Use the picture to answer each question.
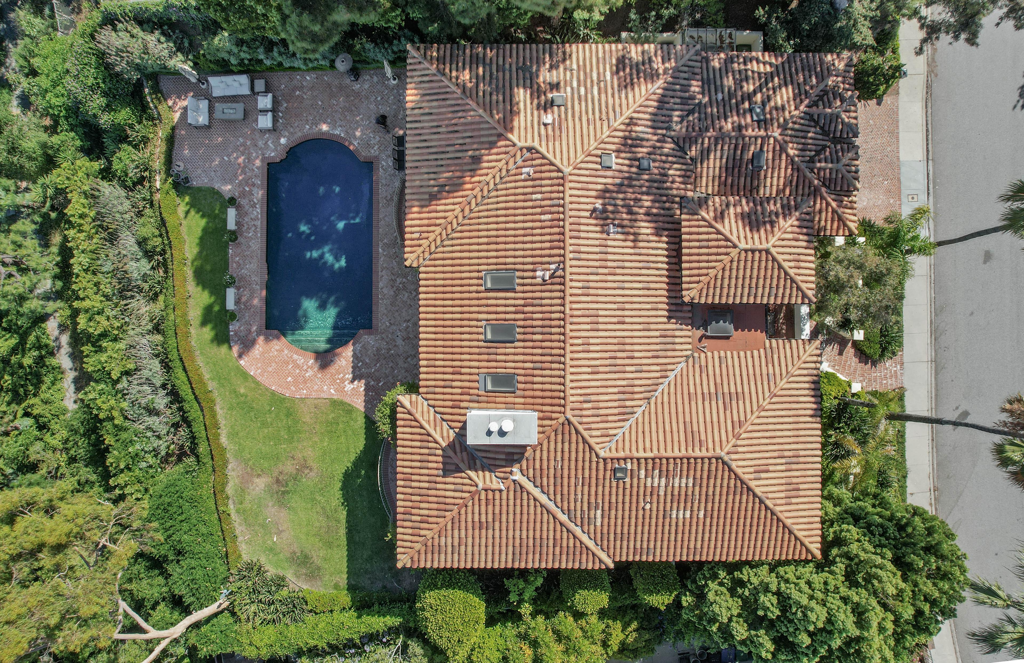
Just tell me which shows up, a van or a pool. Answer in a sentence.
Of the two, only a pool appears.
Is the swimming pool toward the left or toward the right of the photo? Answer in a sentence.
It is on the left.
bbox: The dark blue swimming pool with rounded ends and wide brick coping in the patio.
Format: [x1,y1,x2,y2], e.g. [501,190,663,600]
[260,132,379,359]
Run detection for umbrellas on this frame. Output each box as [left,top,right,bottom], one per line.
[176,63,209,90]
[383,57,400,86]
